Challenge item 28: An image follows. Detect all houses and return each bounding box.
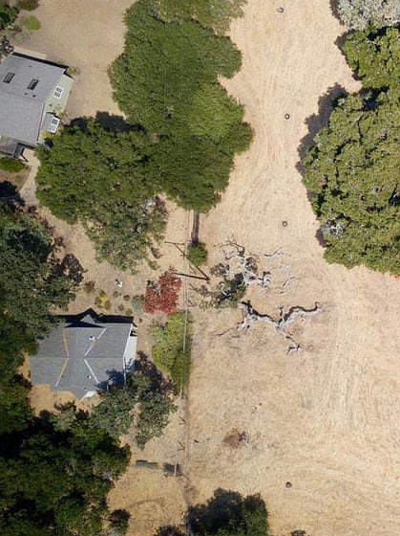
[0,49,81,159]
[31,317,143,402]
